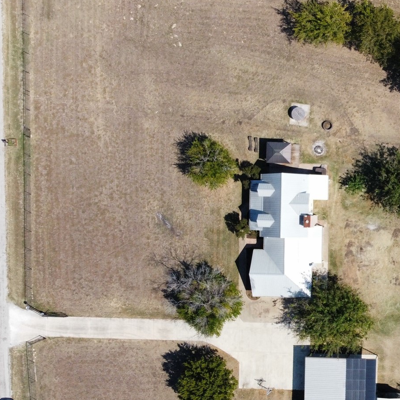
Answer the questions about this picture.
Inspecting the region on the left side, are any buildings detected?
No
